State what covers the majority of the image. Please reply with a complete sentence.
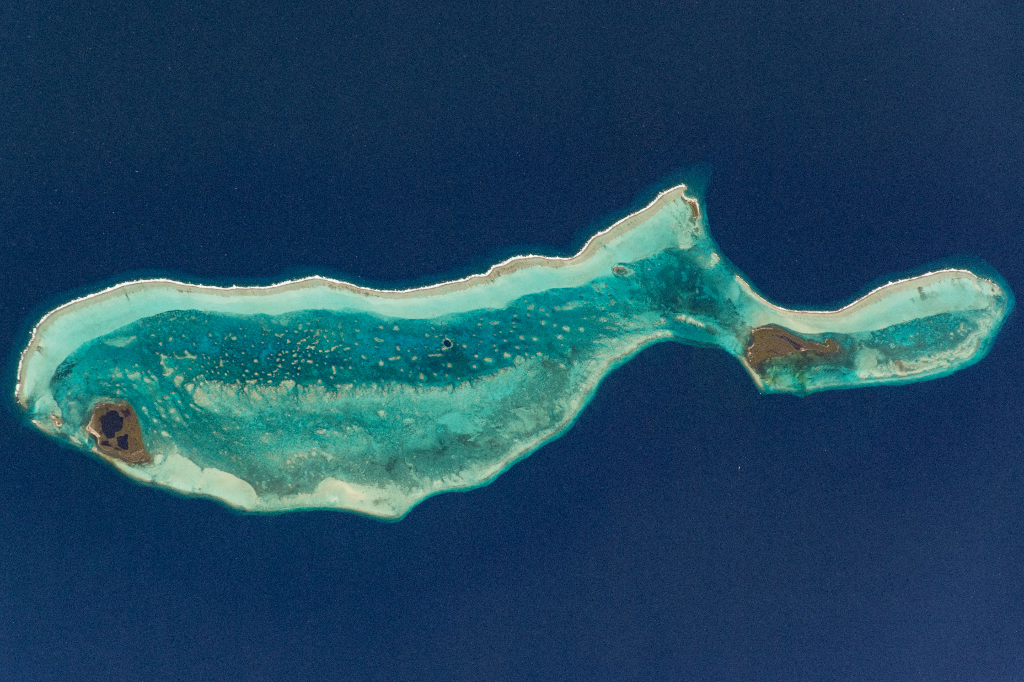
The largest share of the image is taken up by water.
